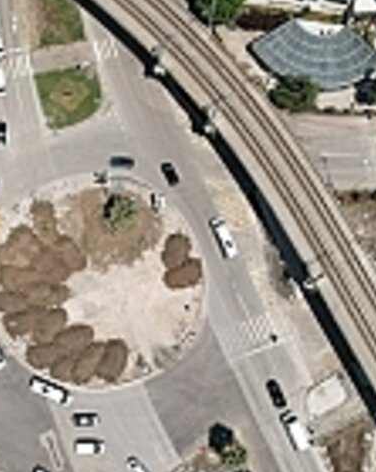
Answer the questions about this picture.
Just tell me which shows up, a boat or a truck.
truck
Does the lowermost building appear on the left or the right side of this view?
right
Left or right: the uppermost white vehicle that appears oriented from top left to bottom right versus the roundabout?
right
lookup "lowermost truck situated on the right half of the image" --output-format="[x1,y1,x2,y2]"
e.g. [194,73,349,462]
[278,407,317,457]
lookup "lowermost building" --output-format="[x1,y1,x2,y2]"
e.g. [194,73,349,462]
[242,17,376,93]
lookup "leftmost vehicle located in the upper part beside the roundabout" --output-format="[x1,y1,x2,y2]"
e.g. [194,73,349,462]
[108,154,135,168]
